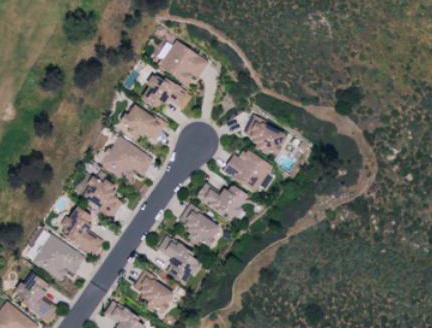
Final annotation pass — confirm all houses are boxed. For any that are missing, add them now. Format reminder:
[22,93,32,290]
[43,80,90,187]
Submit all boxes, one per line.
[12,272,56,321]
[134,271,174,315]
[224,150,272,192]
[179,204,220,247]
[0,301,38,328]
[242,114,287,158]
[159,40,208,84]
[142,74,191,109]
[100,137,152,184]
[105,302,144,328]
[32,234,84,281]
[120,104,167,139]
[82,176,122,216]
[60,208,102,254]
[197,184,250,222]
[158,236,202,284]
